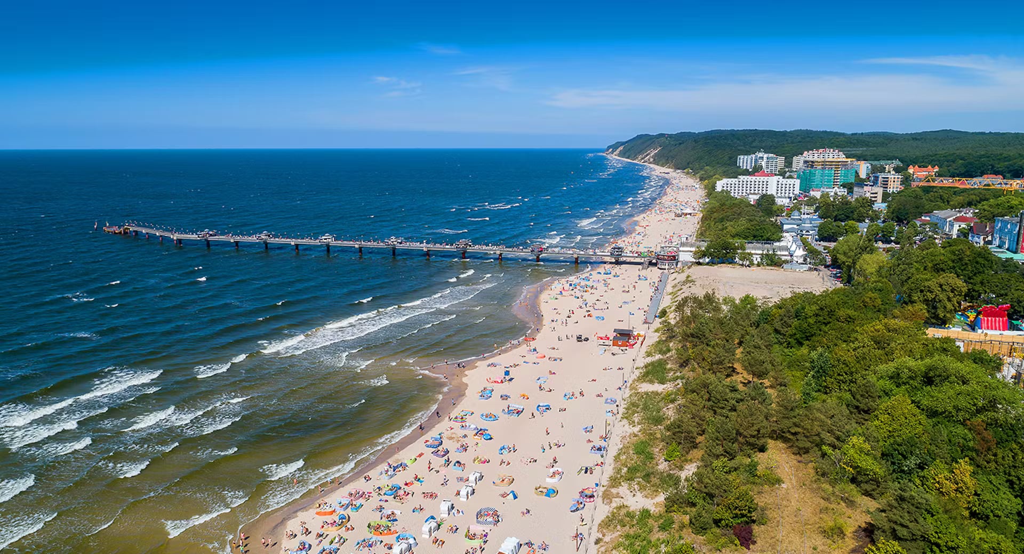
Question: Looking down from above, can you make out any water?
Yes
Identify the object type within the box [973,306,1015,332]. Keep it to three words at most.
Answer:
building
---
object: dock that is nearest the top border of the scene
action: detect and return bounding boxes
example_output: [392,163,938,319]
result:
[114,224,657,263]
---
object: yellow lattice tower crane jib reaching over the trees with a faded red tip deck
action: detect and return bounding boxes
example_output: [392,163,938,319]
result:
[913,176,1024,198]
